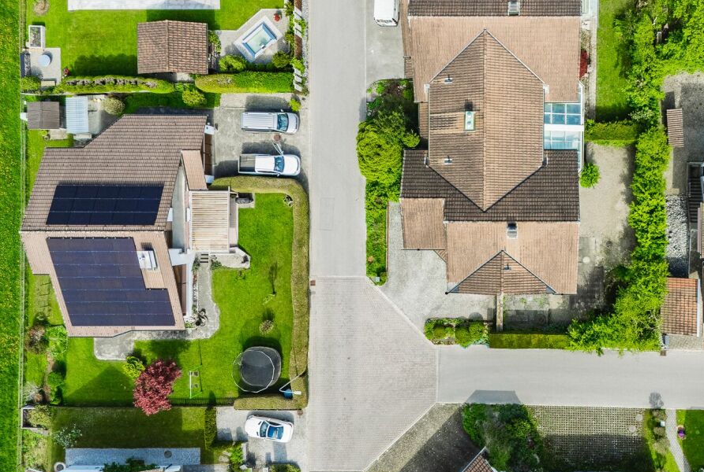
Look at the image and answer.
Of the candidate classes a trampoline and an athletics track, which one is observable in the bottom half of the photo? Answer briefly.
trampoline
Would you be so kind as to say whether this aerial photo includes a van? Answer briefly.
Yes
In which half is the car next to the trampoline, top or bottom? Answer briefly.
bottom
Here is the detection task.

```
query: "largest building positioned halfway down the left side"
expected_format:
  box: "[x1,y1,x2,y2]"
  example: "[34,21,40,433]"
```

[18,113,237,337]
